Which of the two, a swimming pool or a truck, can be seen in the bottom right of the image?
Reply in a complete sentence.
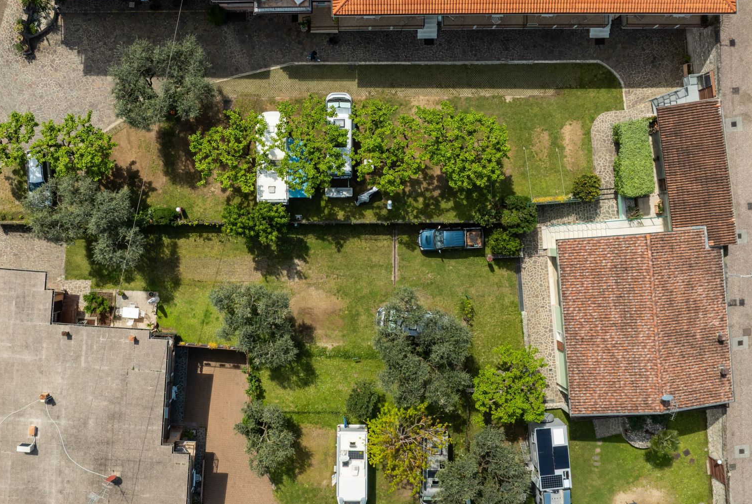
You can see a truck in the bottom right of the image.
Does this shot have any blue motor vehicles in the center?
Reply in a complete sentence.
Yes, looking in the center, one can make out a blue motor vehicle.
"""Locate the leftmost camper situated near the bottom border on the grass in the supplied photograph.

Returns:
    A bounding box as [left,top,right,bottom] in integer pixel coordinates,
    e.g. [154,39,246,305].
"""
[329,419,369,504]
